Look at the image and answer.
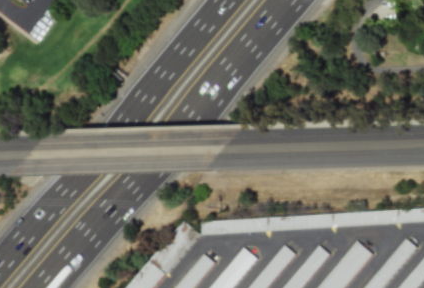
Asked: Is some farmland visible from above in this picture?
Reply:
No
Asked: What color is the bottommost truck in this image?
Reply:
white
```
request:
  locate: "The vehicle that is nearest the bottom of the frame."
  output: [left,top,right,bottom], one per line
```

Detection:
[48,254,84,288]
